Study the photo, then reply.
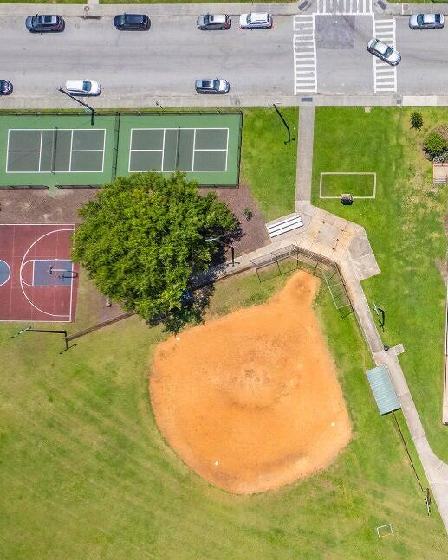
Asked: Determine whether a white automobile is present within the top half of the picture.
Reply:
Yes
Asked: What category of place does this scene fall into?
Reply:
sports ground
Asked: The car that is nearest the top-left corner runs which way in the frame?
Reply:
from left to right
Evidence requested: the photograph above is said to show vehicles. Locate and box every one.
[27,12,66,32]
[198,11,232,30]
[115,11,151,31]
[366,38,402,66]
[0,77,16,95]
[410,11,444,29]
[194,76,230,94]
[240,10,274,29]
[65,78,102,96]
